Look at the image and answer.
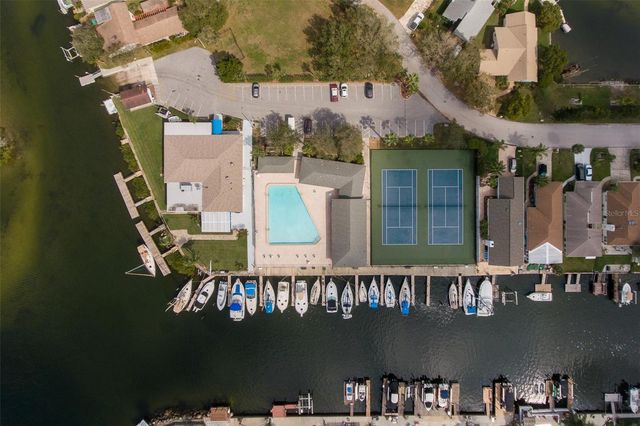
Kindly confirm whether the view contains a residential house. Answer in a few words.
Yes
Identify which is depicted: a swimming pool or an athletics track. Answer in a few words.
swimming pool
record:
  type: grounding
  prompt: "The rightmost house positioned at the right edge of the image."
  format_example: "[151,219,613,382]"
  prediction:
[603,182,640,245]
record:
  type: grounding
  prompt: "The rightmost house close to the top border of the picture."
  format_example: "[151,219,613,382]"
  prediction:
[478,11,537,84]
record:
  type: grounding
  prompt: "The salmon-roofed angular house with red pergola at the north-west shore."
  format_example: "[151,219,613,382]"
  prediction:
[94,0,188,56]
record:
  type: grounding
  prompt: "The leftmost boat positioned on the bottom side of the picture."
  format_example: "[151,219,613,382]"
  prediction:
[130,244,156,279]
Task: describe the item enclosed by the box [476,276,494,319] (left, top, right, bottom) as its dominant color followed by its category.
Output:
white boat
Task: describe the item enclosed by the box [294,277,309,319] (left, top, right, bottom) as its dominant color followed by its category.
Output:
white boat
